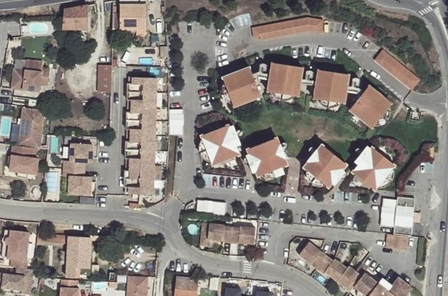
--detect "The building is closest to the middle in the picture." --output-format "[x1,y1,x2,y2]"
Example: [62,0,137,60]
[200,126,242,168]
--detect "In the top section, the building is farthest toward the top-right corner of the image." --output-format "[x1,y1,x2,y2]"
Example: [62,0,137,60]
[374,49,420,90]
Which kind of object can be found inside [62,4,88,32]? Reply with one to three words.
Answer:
house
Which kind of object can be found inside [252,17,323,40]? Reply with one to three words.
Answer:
building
